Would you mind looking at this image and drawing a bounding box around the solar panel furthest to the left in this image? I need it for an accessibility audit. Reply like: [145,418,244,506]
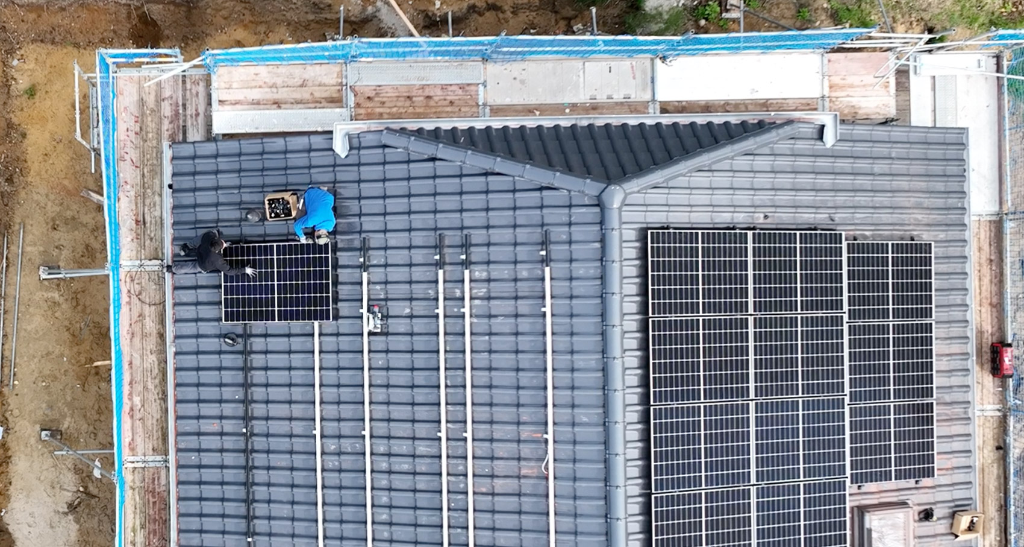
[220,240,333,324]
